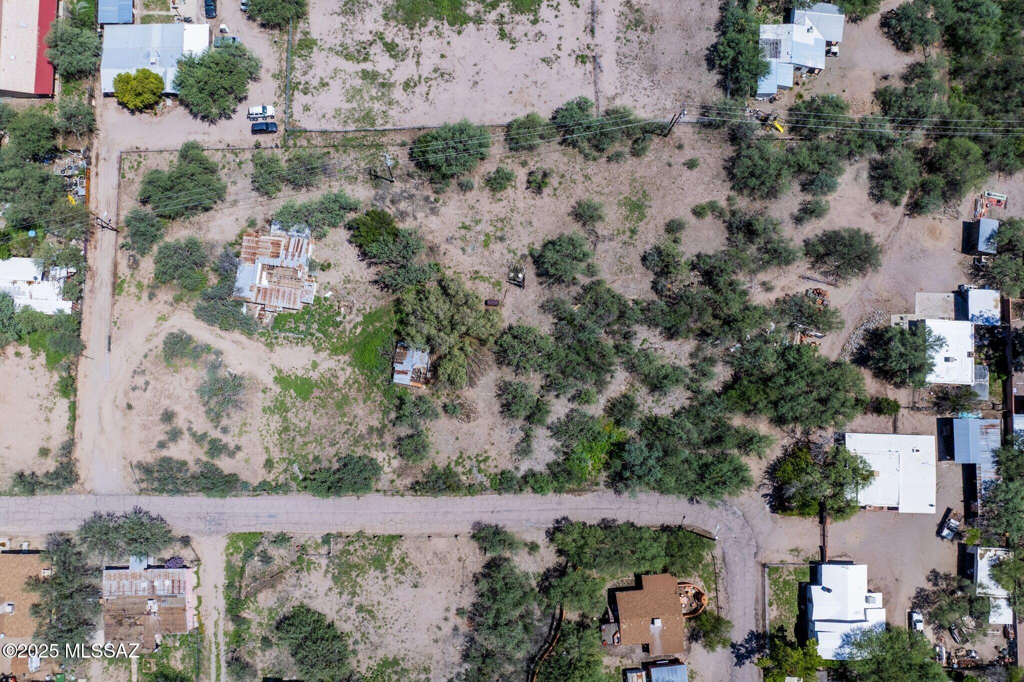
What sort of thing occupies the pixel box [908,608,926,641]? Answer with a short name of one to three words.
vehicle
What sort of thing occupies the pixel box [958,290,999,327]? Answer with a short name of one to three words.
shed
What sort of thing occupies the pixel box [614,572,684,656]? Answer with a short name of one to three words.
house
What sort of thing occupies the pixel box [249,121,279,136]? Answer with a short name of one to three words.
car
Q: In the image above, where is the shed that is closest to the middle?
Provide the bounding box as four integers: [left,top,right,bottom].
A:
[393,343,431,388]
